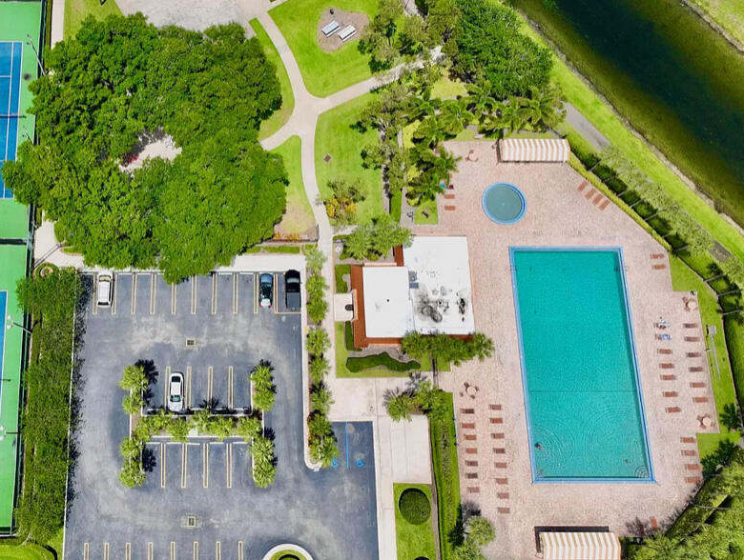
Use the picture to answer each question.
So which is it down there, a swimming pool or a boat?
swimming pool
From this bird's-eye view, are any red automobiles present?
No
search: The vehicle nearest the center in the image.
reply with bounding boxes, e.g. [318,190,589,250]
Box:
[284,269,302,311]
